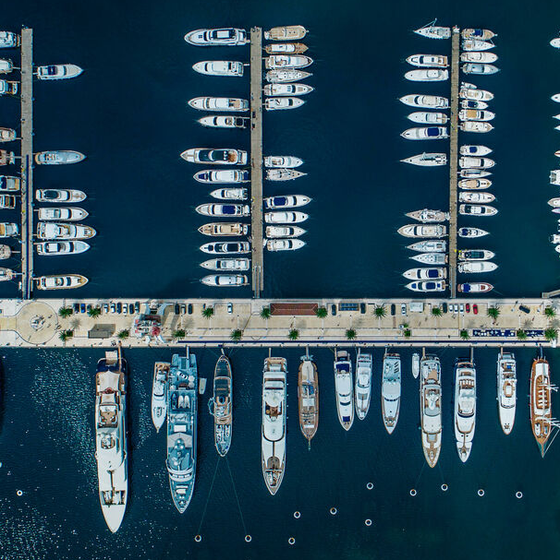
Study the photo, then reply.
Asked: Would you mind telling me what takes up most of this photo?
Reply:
water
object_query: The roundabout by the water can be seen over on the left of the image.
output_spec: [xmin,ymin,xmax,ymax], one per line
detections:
[15,301,58,343]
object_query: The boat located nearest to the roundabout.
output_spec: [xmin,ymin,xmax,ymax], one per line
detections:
[29,273,88,290]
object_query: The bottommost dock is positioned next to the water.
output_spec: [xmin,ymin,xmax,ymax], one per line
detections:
[0,298,560,347]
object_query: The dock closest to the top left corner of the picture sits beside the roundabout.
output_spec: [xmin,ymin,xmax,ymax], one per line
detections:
[19,26,34,300]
